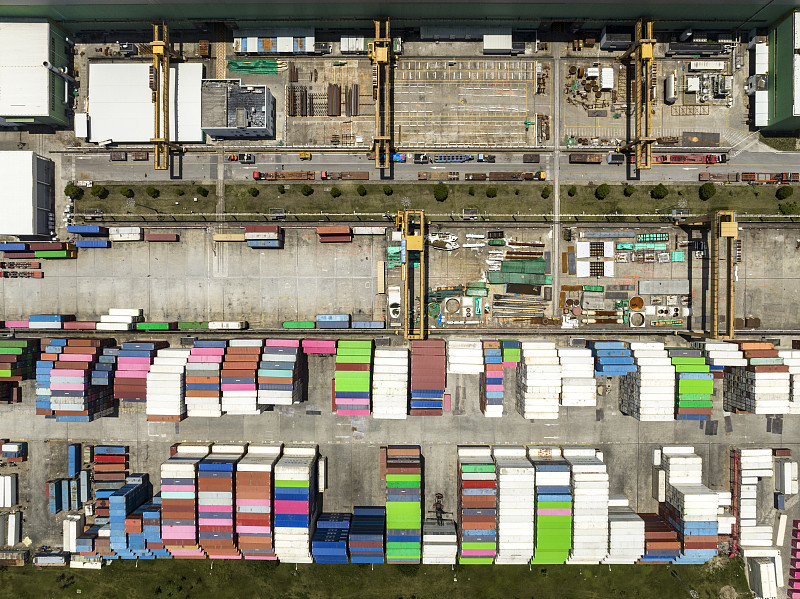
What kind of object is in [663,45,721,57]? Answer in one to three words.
shed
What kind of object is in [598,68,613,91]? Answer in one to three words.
building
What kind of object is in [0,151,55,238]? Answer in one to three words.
building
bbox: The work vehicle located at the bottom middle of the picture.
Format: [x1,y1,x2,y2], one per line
[426,491,452,524]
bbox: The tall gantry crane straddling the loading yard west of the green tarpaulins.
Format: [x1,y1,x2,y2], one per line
[388,209,435,340]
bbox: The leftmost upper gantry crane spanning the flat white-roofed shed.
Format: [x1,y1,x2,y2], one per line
[148,25,187,170]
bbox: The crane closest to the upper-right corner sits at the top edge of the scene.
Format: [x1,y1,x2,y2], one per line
[618,24,659,170]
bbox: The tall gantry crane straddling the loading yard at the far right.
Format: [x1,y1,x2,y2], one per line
[673,209,742,340]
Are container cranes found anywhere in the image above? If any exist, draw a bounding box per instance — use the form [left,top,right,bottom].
[148,25,187,170]
[388,209,435,340]
[368,25,398,170]
[618,24,659,170]
[673,209,742,340]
